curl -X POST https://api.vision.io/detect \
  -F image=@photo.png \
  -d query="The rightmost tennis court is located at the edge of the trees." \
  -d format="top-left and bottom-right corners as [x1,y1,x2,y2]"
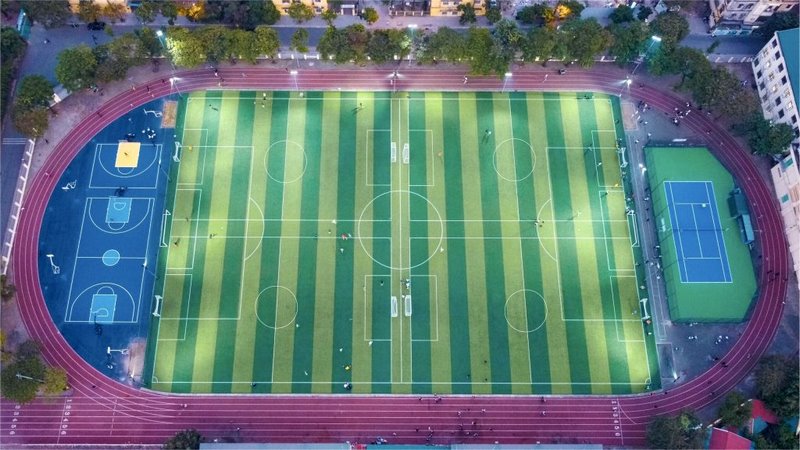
[644,147,757,322]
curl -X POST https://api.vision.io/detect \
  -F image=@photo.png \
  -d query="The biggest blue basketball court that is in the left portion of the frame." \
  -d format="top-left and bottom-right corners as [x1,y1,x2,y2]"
[65,198,155,322]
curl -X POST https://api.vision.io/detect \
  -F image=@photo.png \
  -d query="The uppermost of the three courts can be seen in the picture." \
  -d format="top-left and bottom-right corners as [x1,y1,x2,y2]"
[89,143,162,188]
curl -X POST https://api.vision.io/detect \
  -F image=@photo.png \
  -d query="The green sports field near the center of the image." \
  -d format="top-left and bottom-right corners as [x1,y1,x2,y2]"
[138,90,664,395]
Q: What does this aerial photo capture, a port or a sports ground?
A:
sports ground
